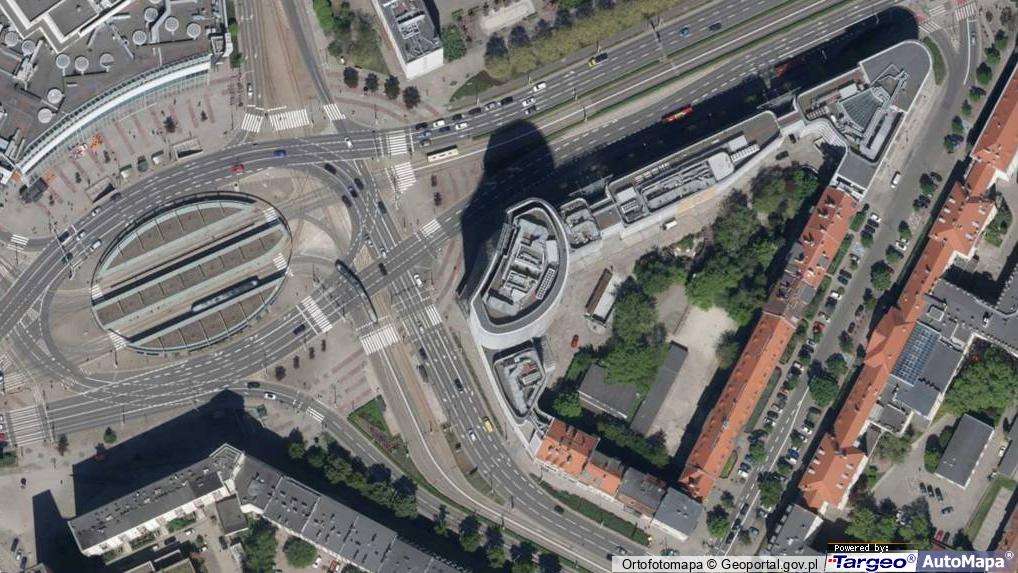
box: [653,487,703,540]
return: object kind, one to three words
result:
building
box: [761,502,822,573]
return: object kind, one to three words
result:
house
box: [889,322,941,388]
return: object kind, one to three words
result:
building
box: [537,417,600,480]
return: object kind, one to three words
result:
house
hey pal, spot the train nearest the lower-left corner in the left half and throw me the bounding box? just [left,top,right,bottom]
[193,281,257,312]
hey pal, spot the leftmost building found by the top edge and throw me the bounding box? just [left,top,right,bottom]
[0,0,230,190]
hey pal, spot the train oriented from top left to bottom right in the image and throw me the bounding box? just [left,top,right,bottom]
[340,266,377,319]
